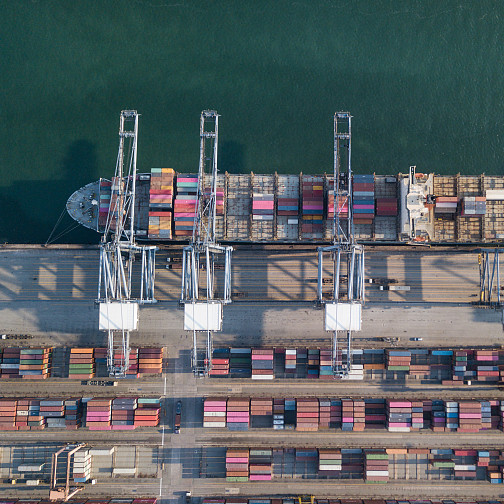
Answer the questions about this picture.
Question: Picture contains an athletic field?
No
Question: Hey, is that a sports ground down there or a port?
port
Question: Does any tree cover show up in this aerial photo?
No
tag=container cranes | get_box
[313,110,369,376]
[179,110,250,376]
[470,237,504,334]
[96,109,178,375]
[49,444,88,502]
